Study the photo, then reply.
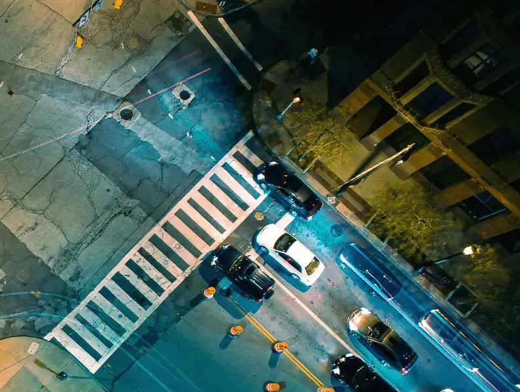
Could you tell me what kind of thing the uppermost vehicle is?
automobile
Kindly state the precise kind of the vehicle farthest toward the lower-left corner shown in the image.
car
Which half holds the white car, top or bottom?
bottom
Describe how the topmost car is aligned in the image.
diagonally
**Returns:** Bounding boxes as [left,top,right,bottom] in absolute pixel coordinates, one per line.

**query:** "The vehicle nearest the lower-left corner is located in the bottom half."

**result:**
[202,244,284,307]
